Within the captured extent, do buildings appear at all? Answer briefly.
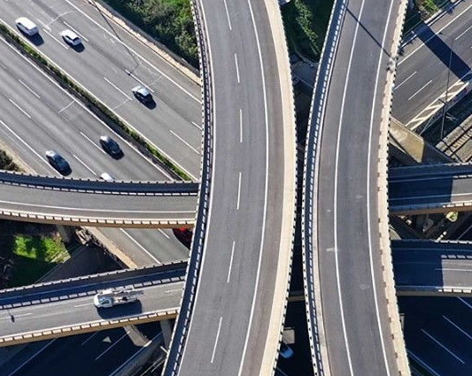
No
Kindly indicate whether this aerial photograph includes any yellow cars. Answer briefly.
No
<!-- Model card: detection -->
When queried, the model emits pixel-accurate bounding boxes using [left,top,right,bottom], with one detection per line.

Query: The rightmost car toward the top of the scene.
[132,87,155,105]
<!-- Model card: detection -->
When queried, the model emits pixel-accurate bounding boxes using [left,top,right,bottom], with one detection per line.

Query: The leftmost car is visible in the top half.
[17,19,39,36]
